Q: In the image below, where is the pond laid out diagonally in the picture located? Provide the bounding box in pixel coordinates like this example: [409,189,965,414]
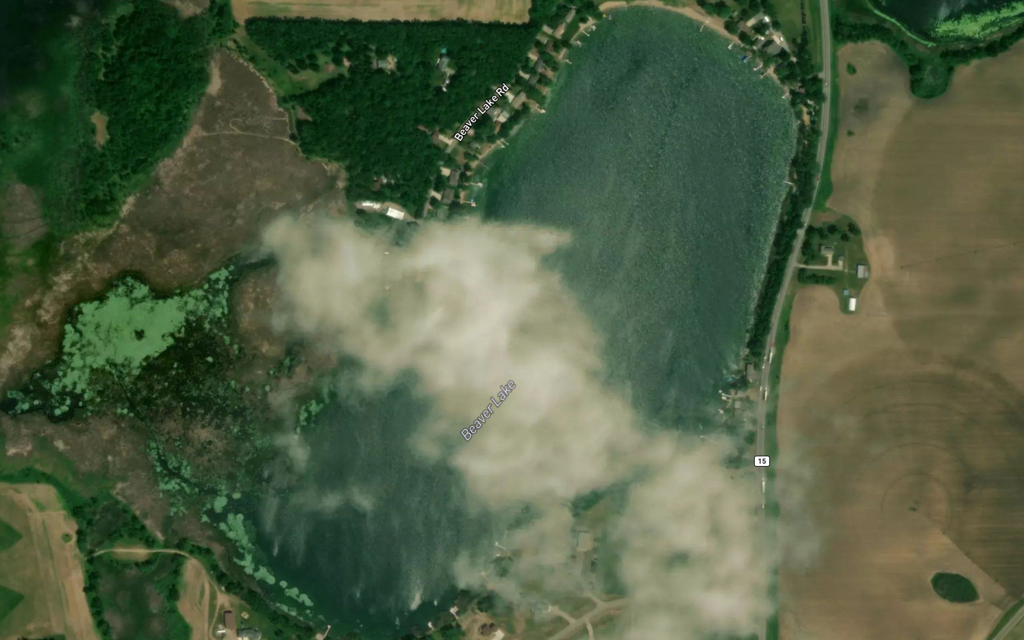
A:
[0,255,275,421]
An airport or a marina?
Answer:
marina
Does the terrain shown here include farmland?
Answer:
Yes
